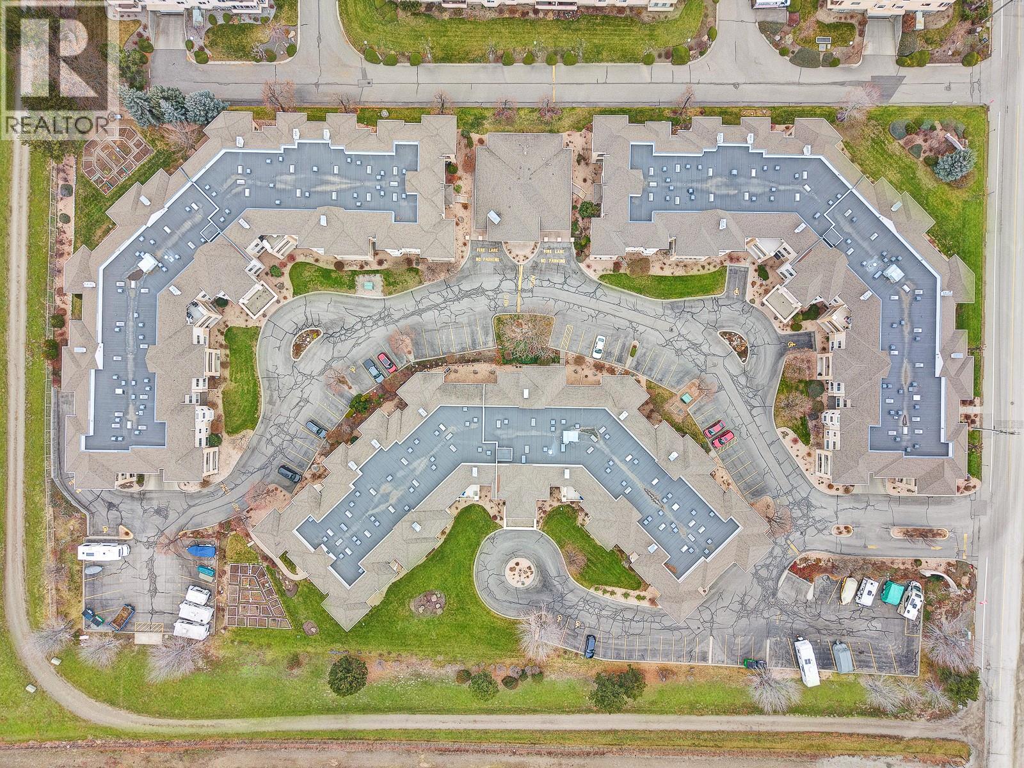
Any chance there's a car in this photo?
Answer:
Yes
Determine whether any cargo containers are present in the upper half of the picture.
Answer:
No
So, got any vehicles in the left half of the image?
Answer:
Yes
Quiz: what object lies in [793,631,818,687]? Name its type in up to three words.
trailer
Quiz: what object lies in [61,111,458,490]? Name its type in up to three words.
building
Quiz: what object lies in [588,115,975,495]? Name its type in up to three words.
building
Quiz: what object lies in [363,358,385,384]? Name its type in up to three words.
truck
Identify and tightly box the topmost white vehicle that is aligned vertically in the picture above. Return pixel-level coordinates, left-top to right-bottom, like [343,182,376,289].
[592,334,606,359]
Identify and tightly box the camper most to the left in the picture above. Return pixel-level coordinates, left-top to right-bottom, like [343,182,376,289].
[78,542,138,560]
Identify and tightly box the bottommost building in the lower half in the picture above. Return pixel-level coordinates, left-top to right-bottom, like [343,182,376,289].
[250,366,775,632]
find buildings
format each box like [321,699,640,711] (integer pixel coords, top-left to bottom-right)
[61,111,458,490]
[465,132,574,244]
[250,366,775,632]
[828,0,959,22]
[382,0,679,12]
[588,115,975,495]
[103,0,275,19]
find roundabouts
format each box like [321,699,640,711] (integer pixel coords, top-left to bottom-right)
[504,554,542,590]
